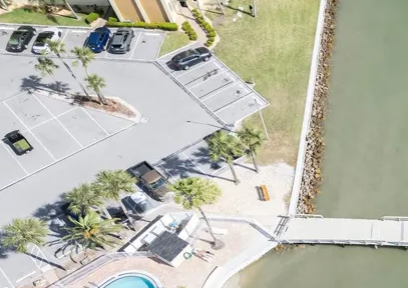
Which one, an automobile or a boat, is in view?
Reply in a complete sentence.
The image shows an automobile.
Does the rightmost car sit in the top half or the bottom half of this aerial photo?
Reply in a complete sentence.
Seen from above, the rightmost car lies in the top half of the view.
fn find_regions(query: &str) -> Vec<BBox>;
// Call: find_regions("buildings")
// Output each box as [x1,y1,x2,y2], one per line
[0,0,233,26]
[121,209,198,268]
